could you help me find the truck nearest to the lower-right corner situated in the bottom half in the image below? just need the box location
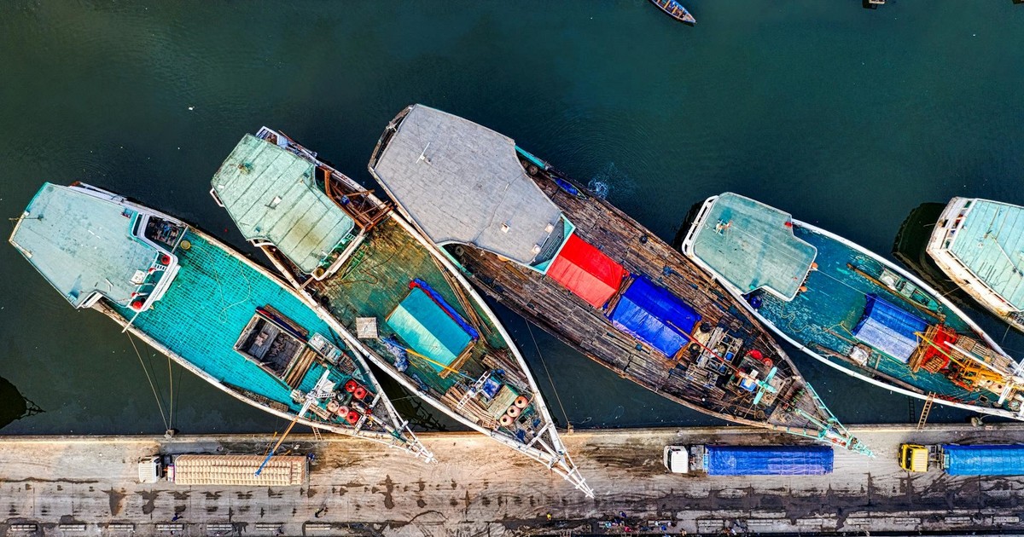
[894,437,1024,475]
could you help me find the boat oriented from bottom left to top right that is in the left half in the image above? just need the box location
[340,244,368,279]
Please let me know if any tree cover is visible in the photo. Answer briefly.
No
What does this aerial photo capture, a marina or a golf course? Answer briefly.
marina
